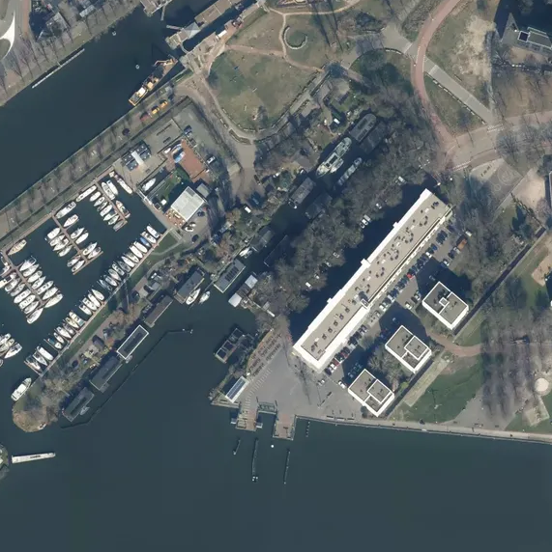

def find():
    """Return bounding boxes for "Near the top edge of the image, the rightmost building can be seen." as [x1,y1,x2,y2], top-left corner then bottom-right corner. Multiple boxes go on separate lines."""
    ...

[499,14,552,57]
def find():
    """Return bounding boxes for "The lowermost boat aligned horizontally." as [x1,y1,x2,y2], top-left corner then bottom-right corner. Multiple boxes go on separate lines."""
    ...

[11,451,57,464]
